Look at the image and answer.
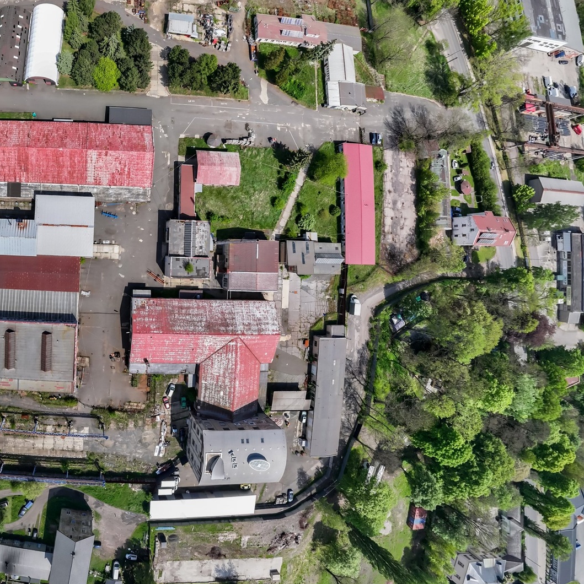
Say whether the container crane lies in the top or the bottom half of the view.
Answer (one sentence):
You can find the container crane in the top half.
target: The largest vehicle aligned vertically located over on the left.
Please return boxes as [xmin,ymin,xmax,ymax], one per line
[153,421,171,459]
